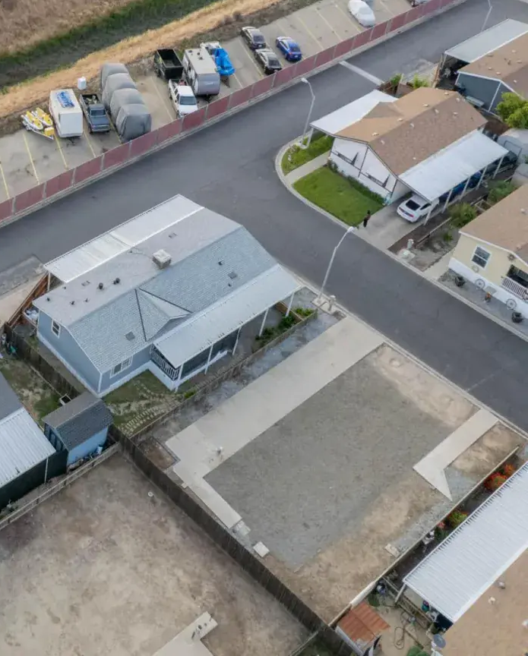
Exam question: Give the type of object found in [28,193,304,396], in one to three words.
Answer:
house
